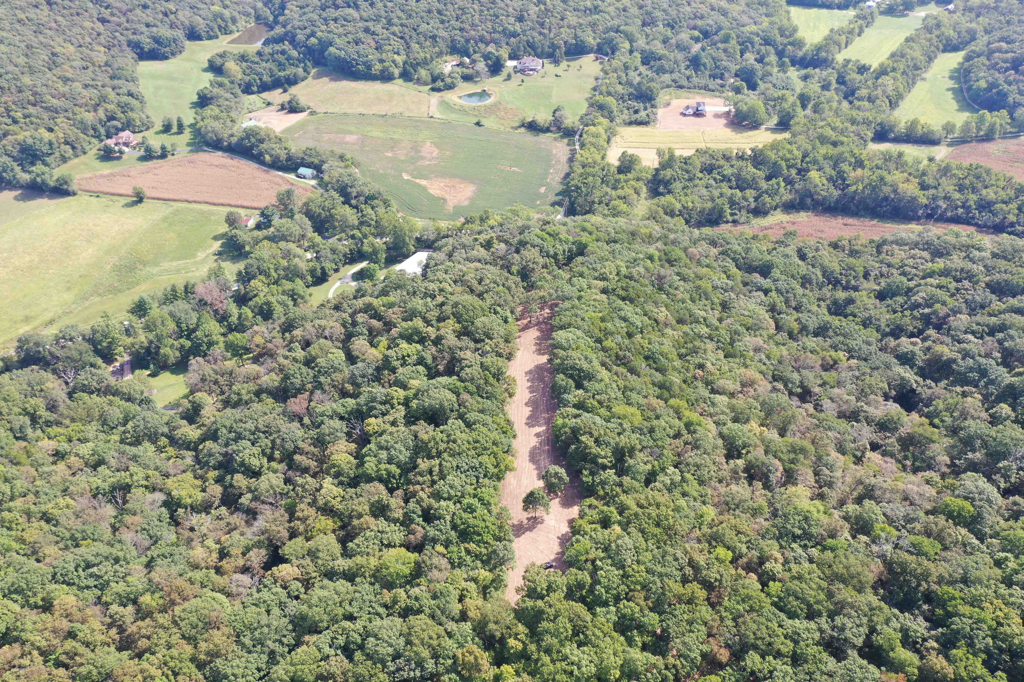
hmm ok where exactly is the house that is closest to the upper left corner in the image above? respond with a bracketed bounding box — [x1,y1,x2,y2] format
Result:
[94,125,139,147]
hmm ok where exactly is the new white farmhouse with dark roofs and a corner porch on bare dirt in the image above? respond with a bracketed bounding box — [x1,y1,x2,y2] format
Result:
[682,98,710,116]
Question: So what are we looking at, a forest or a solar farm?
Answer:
forest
